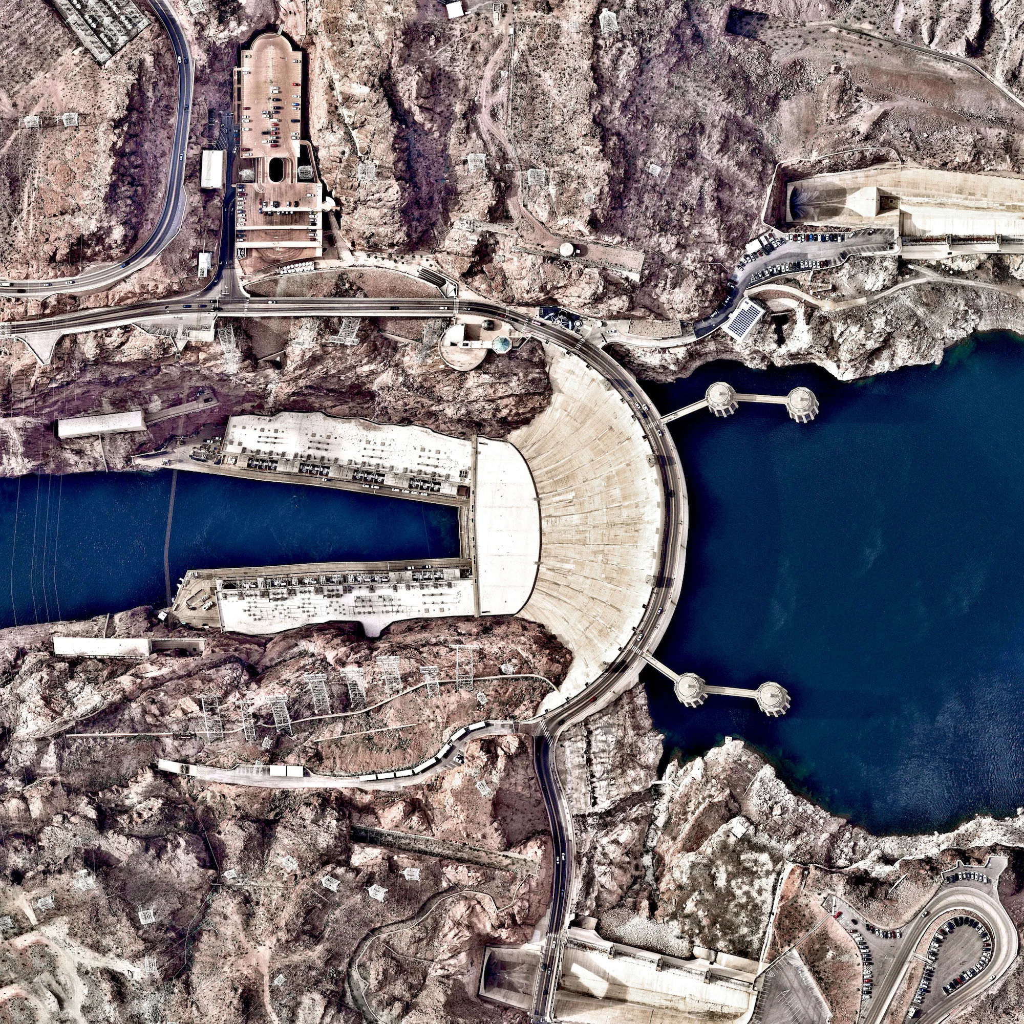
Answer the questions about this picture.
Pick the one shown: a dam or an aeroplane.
dam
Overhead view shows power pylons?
Yes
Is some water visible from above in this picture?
Yes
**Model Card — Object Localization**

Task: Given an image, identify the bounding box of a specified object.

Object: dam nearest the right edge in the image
[509,316,685,731]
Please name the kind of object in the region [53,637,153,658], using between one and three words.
building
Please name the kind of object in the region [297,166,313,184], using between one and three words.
pylon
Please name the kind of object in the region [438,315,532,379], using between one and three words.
building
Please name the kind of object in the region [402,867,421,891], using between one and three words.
pylon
